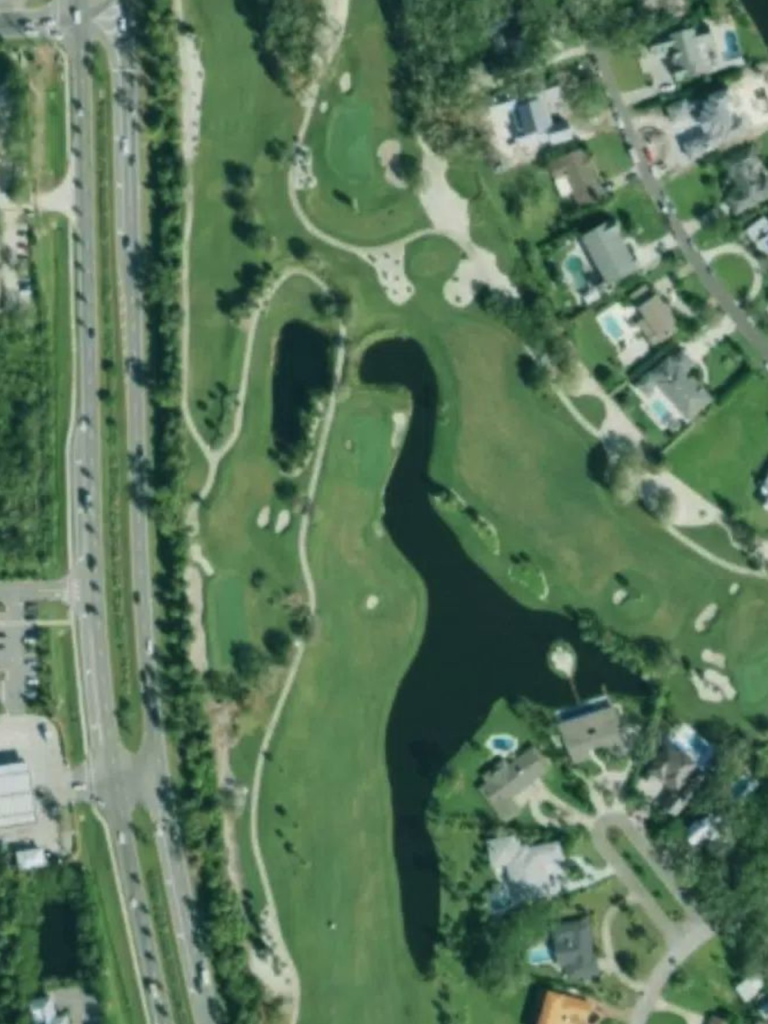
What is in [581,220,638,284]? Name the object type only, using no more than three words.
house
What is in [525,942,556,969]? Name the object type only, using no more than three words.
swimming pool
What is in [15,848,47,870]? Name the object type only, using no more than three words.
shed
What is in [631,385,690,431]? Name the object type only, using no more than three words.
swimming pool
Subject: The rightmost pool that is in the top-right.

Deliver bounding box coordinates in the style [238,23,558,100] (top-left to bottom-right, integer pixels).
[708,17,745,67]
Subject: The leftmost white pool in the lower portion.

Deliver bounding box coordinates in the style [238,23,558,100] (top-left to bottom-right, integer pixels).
[486,733,519,756]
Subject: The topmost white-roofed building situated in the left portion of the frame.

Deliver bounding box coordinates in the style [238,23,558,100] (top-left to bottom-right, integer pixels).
[0,764,35,825]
